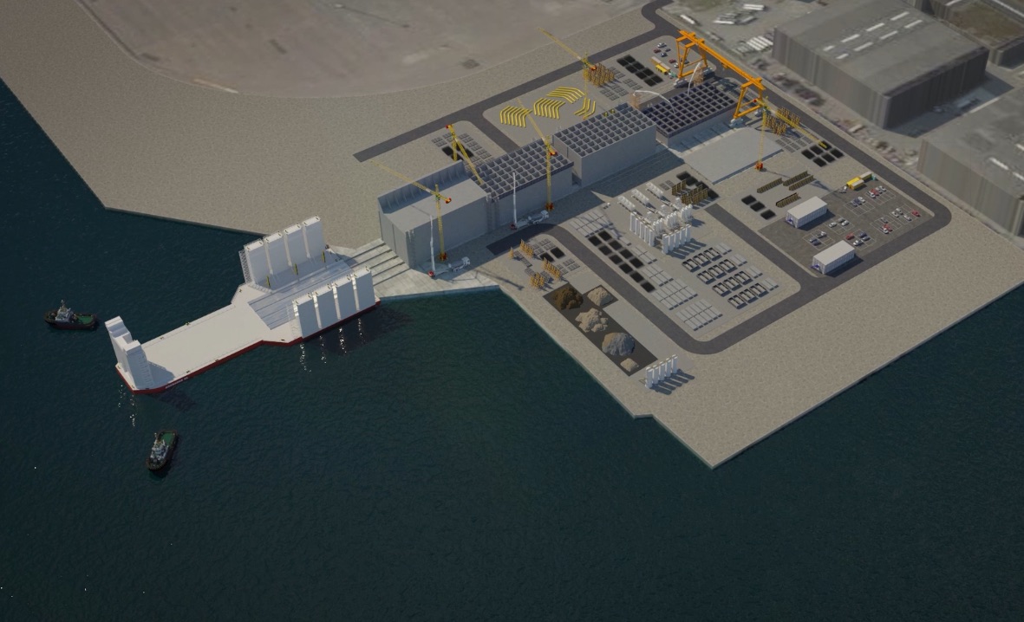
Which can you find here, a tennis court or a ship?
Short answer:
ship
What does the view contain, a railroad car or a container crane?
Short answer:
container crane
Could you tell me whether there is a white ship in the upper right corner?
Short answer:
No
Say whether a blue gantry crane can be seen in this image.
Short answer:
No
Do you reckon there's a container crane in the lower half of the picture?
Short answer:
No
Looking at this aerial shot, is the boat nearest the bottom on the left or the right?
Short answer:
left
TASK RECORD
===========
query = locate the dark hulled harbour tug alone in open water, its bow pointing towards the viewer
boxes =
[145,425,179,469]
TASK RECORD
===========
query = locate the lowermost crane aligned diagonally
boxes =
[370,159,452,261]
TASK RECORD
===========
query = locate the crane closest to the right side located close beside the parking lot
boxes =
[752,95,829,168]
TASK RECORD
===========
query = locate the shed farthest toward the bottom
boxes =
[812,240,857,274]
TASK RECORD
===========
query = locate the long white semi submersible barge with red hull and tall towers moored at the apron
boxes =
[103,215,381,395]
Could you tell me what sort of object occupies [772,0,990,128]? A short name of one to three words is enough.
warehouse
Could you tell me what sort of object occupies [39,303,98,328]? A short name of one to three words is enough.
boat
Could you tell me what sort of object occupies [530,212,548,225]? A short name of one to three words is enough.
vehicle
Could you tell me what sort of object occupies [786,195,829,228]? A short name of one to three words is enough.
shed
